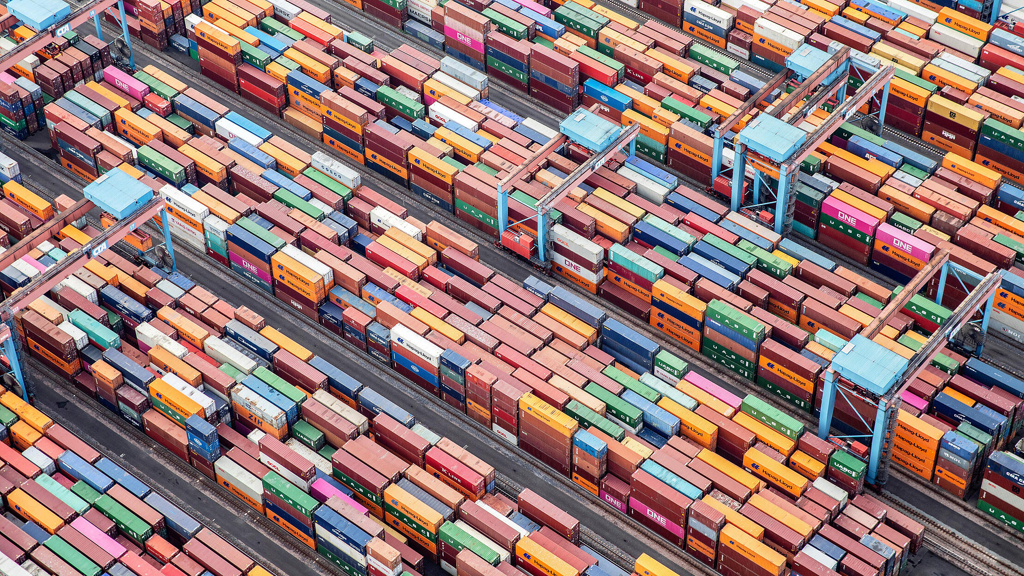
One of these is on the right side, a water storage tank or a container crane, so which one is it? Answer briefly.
container crane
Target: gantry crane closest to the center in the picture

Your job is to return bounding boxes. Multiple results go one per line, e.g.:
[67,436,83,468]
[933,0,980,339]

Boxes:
[494,97,643,275]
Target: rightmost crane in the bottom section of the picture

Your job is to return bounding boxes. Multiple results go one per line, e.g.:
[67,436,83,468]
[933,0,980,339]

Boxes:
[818,244,1006,491]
